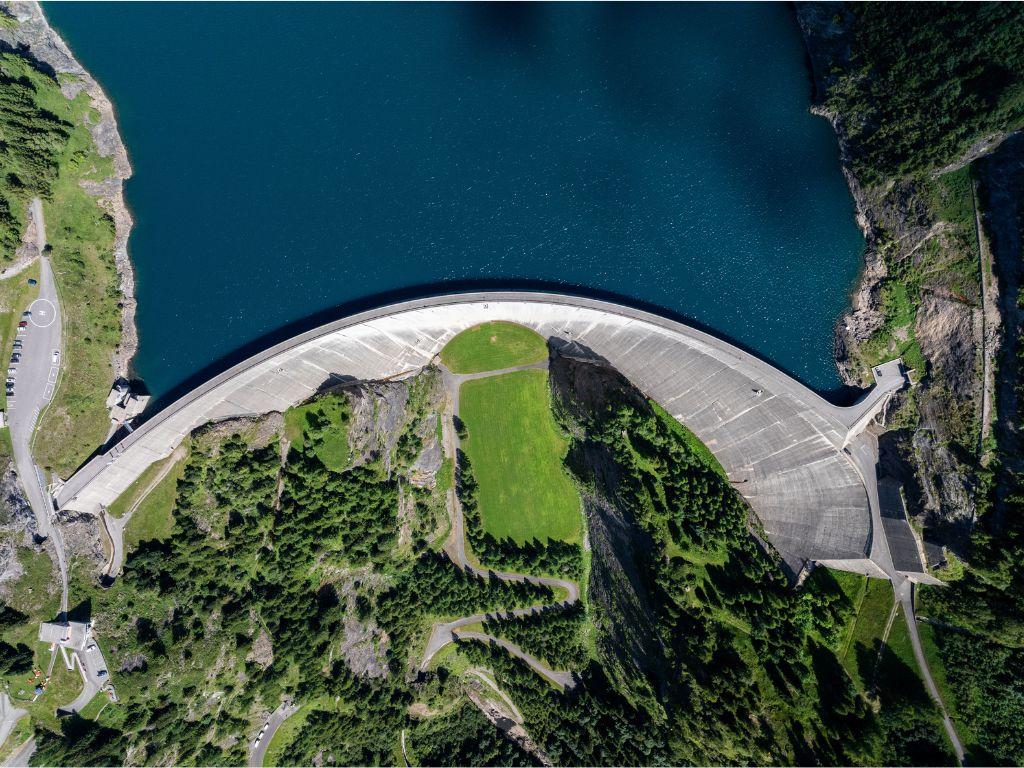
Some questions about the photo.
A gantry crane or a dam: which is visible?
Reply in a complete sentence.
Visible in the photo is a dam.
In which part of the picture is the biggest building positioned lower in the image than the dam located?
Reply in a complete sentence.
Look in the bottom left portion of the view to spot the biggest building positioned lower in the image than the dam.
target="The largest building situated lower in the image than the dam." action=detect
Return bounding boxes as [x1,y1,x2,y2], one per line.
[40,609,105,651]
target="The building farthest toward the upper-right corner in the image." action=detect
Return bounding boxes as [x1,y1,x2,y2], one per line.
[870,358,905,393]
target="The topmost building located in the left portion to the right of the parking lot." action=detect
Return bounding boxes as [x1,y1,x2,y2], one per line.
[106,385,159,425]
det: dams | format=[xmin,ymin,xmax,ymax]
[56,291,934,586]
